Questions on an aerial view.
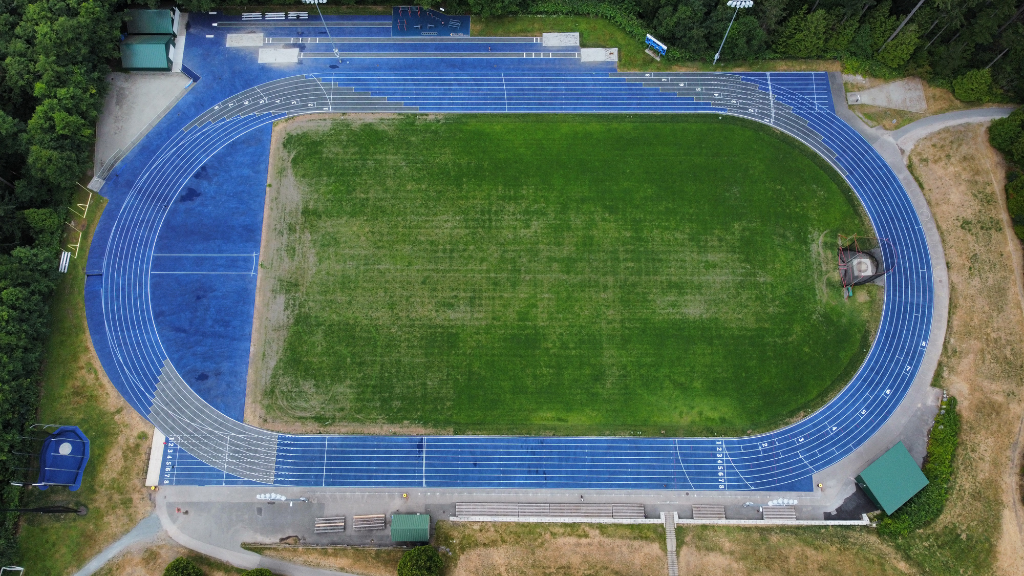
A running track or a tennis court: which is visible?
running track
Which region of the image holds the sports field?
center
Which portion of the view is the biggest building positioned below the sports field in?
bottom right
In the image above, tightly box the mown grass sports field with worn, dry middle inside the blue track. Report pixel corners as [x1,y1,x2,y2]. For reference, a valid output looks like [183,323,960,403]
[243,114,882,435]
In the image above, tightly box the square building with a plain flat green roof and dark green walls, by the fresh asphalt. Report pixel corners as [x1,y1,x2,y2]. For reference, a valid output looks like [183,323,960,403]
[854,441,929,515]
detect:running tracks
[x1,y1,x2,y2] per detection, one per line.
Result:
[85,12,935,492]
